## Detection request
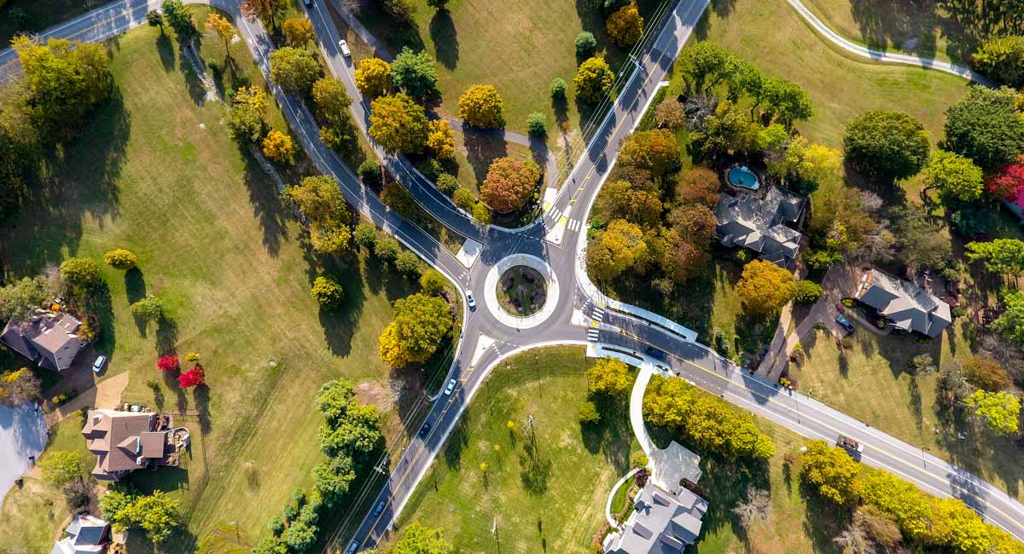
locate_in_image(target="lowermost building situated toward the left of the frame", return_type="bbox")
[37,506,118,554]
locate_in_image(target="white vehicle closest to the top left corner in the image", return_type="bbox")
[337,38,351,58]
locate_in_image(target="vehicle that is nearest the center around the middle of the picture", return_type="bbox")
[464,289,476,307]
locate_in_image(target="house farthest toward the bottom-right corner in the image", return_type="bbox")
[851,269,959,339]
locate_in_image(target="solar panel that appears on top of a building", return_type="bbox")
[71,528,103,544]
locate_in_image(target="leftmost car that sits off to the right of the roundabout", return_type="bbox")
[646,347,665,360]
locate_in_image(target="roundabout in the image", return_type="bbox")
[456,206,621,366]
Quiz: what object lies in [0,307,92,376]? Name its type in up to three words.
house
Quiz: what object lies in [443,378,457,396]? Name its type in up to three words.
car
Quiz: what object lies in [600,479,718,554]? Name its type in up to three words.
house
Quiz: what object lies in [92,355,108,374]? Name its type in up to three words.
car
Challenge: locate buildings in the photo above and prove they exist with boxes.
[851,269,959,339]
[985,171,1024,228]
[714,182,809,271]
[0,307,92,376]
[37,506,118,554]
[73,406,171,481]
[600,479,718,554]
